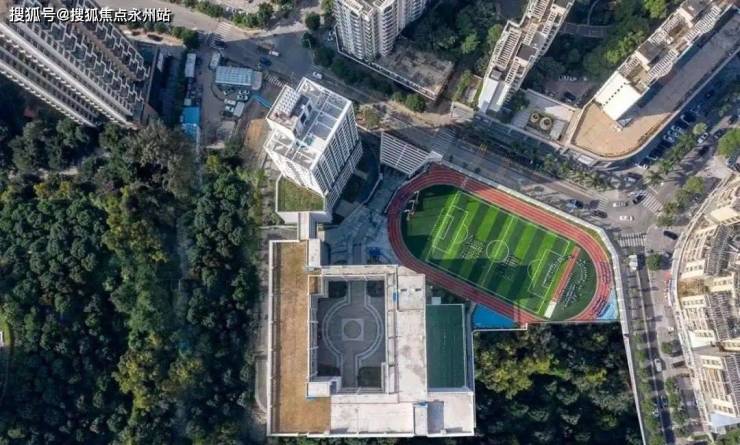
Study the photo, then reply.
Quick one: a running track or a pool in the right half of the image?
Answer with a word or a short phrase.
running track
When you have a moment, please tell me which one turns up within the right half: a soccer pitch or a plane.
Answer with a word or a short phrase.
soccer pitch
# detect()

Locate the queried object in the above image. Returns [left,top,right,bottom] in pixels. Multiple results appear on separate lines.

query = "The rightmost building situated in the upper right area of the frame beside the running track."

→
[568,0,740,162]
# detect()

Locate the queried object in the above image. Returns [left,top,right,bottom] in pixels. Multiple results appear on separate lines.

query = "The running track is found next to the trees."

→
[386,170,614,321]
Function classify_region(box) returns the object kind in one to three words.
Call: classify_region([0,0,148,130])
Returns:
building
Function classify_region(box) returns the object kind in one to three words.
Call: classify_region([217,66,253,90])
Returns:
shed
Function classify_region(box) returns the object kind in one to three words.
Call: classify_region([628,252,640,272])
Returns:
vehicle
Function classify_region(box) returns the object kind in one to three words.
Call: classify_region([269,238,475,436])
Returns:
building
